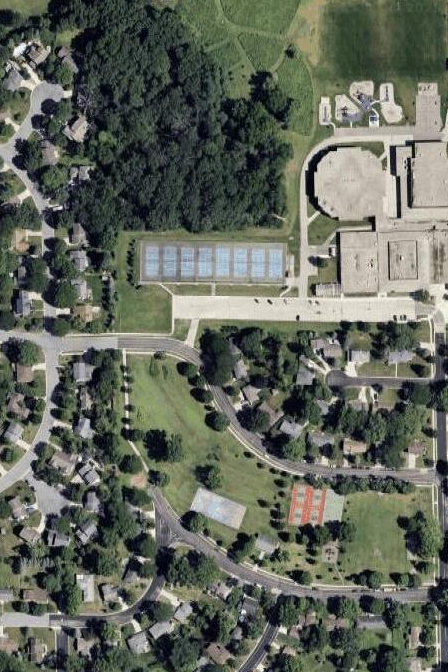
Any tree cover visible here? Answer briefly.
Yes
